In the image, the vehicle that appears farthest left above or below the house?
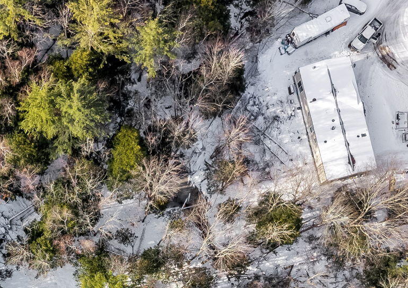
above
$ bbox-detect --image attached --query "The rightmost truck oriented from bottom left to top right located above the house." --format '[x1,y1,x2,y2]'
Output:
[349,16,385,55]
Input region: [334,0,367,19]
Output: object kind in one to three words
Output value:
car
